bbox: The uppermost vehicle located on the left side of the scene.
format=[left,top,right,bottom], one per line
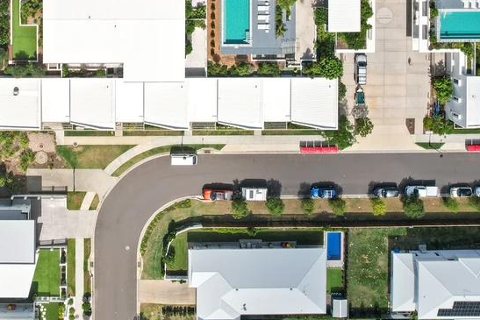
[169,152,198,168]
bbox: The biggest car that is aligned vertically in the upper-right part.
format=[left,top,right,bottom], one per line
[353,54,369,86]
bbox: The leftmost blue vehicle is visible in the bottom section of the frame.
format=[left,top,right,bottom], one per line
[311,185,338,200]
